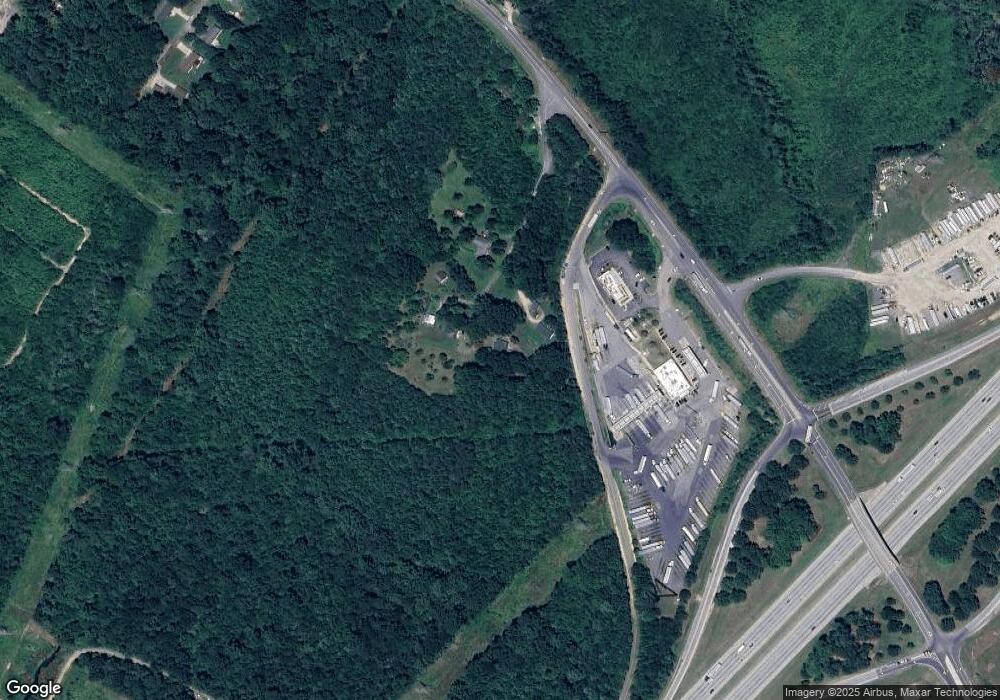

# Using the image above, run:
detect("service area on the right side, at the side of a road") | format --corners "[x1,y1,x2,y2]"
[562,245,742,595]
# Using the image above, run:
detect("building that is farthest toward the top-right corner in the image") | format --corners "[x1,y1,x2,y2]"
[944,265,969,291]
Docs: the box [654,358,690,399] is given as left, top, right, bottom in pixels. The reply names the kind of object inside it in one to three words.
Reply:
building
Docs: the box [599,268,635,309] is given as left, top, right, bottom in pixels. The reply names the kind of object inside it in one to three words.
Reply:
building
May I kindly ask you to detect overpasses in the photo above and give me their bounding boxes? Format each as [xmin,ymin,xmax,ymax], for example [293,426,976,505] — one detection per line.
[849,499,901,571]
